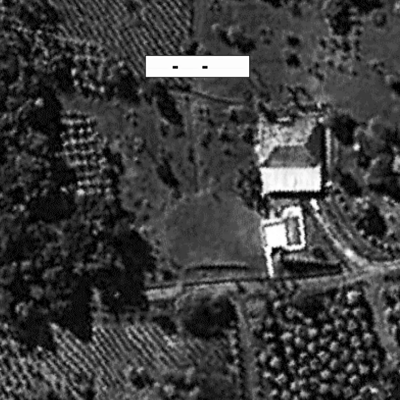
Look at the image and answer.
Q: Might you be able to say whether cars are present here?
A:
No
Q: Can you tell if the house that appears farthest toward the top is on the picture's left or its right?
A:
right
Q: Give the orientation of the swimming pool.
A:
vertically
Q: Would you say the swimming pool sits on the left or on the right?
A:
right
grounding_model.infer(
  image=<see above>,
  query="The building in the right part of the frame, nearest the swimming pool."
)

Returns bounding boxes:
[266,224,286,247]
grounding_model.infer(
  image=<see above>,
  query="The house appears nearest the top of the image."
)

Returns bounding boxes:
[259,118,320,167]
